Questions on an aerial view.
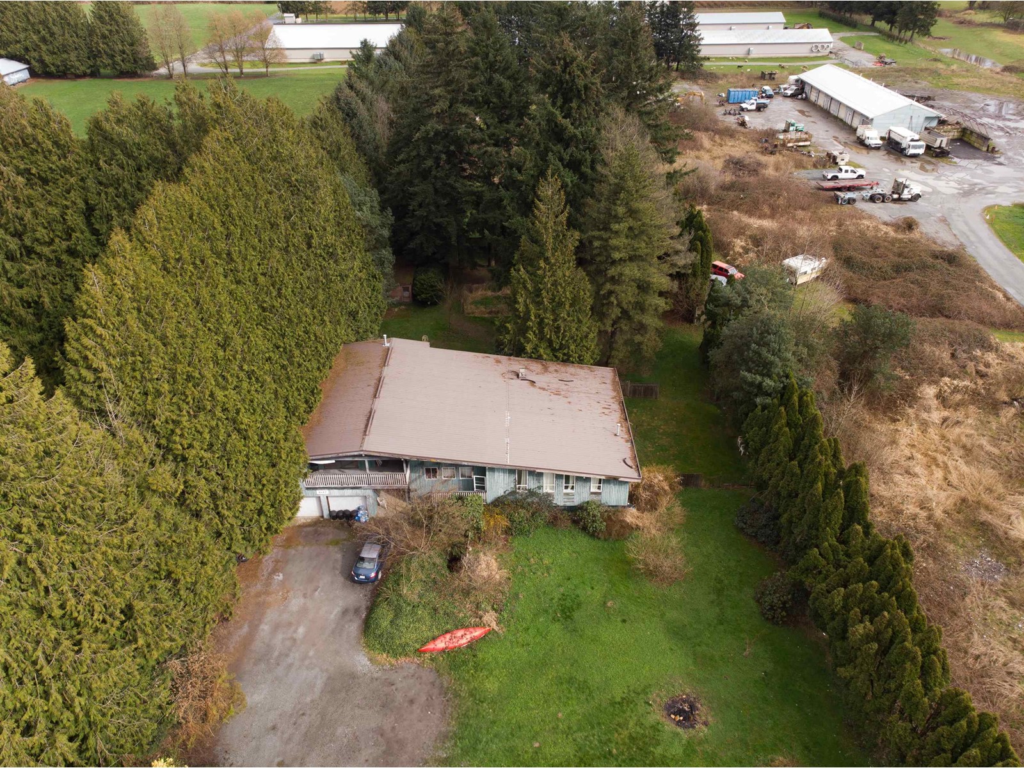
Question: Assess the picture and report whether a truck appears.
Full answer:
Yes, I can see a truck in this picture.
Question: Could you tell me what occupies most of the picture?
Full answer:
For the most part, this view shows trees.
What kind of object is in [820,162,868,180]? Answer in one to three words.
vehicle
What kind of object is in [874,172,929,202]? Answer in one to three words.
truck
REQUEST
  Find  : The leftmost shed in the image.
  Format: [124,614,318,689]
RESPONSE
[0,59,30,88]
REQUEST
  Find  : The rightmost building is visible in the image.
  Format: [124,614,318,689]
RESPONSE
[797,62,948,140]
